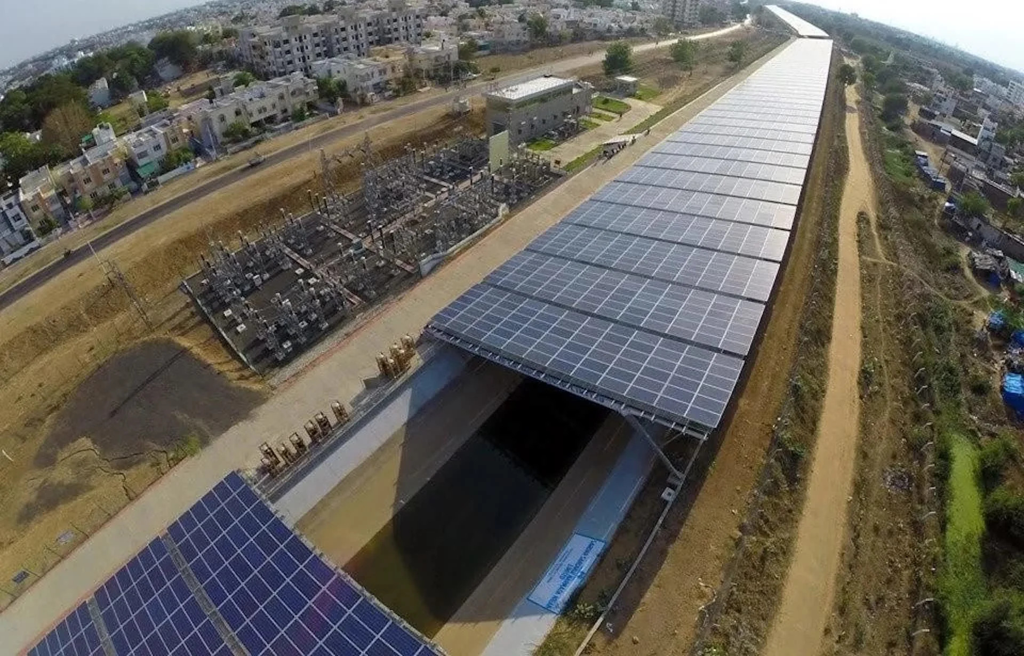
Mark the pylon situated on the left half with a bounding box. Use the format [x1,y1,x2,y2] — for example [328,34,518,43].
[112,263,157,336]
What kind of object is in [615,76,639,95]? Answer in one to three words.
shed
